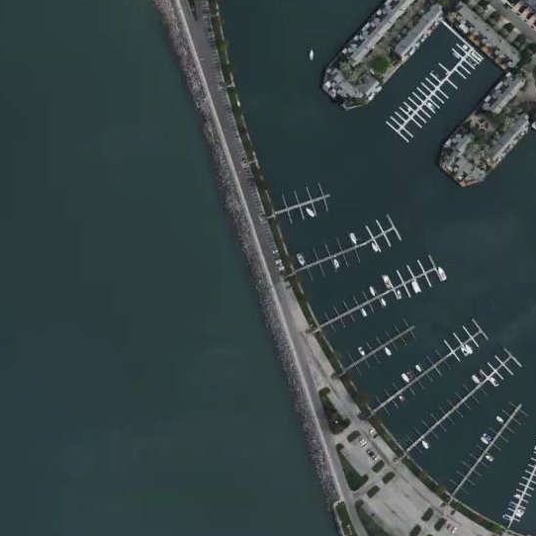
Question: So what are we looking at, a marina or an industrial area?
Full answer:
The picture captures a marina.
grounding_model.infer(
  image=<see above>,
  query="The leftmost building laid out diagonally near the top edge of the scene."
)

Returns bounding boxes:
[336,0,411,66]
